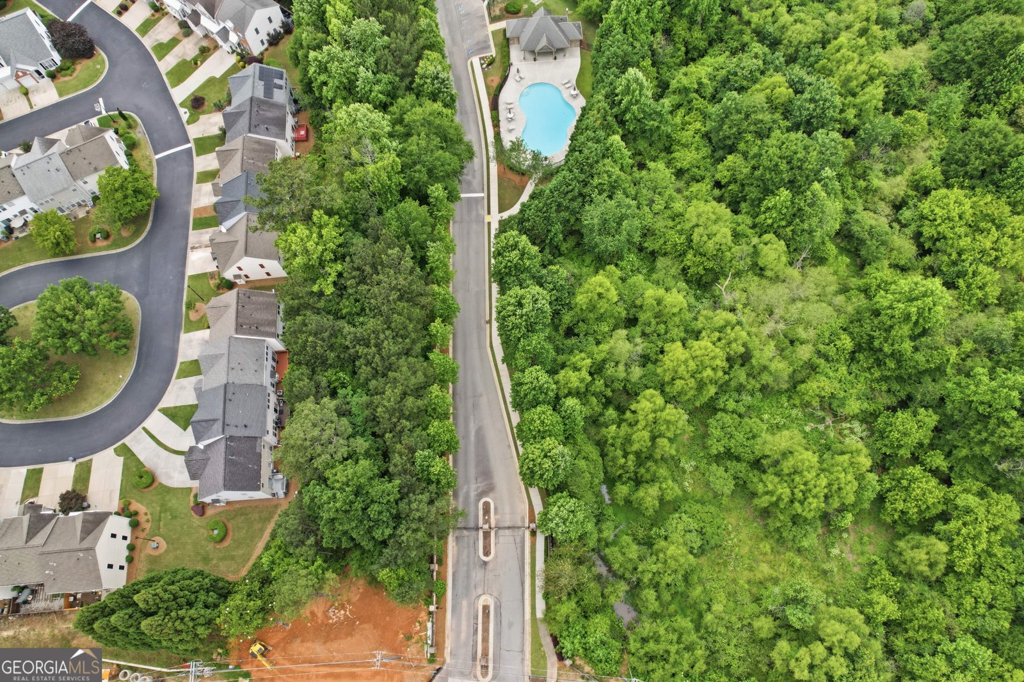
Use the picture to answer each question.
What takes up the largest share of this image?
trees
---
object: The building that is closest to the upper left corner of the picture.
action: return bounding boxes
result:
[0,6,61,98]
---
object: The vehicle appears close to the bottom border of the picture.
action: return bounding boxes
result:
[253,638,277,673]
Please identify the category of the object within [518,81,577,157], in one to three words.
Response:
swimming pool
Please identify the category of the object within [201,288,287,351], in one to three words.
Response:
house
